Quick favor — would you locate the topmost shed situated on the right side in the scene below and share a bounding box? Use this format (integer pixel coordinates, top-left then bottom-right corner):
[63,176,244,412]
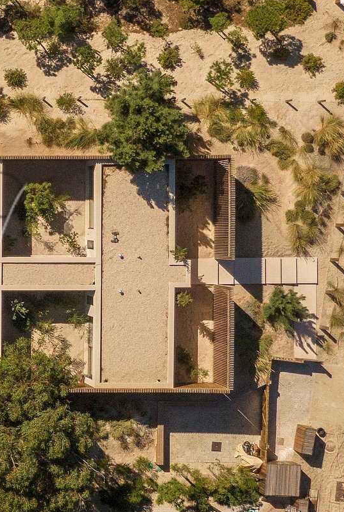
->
[293,422,317,455]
